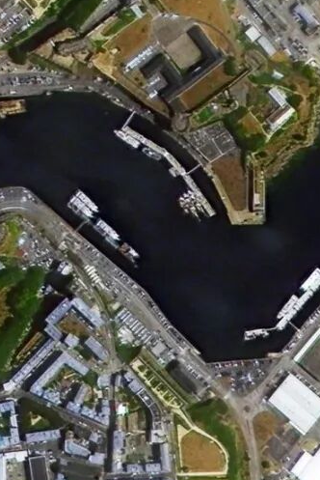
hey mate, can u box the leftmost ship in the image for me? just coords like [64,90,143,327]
[0,100,25,113]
